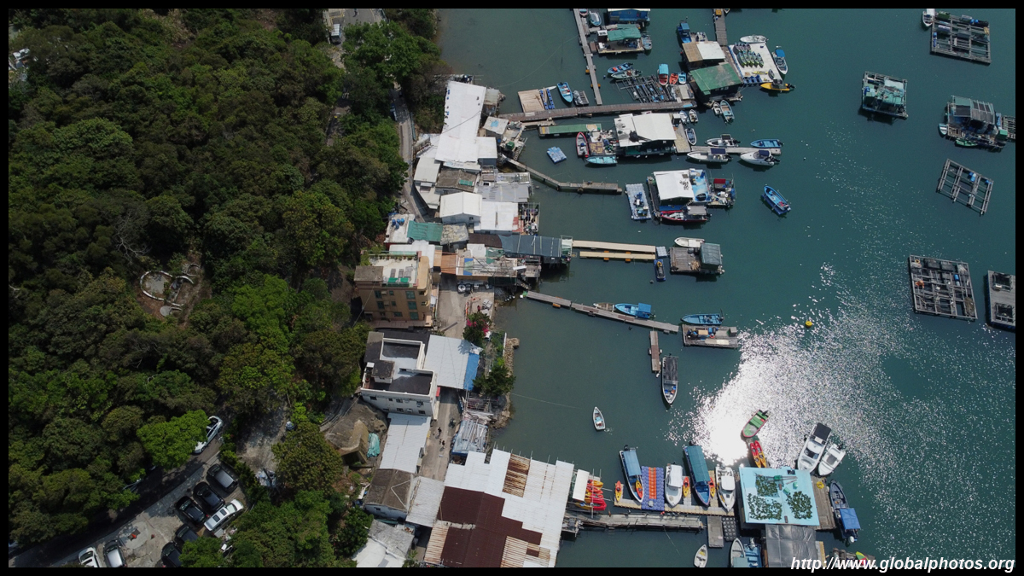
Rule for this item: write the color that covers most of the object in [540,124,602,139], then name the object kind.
green ship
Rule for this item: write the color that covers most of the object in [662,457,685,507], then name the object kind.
white boat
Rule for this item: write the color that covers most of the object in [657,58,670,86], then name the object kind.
blue boat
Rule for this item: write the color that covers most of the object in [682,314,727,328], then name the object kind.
blue boat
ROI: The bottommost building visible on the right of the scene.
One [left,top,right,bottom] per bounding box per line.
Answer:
[762,524,824,576]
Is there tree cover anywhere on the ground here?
Yes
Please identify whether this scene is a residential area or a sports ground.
residential area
